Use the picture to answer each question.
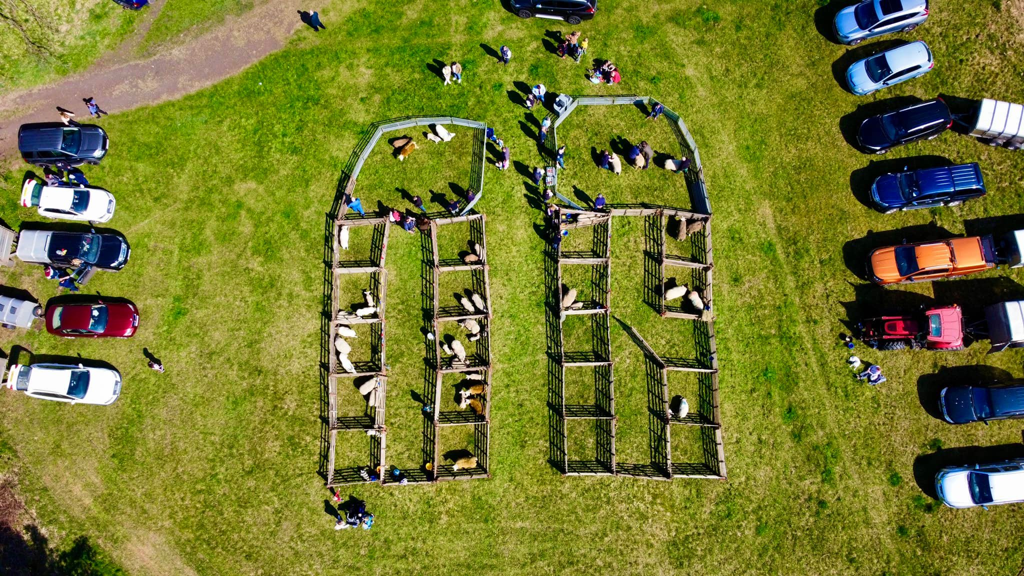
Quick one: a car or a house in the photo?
car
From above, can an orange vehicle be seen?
Yes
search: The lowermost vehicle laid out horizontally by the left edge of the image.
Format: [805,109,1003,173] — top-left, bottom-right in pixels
[8,360,122,405]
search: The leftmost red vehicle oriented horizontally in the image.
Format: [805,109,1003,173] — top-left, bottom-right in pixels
[45,295,140,338]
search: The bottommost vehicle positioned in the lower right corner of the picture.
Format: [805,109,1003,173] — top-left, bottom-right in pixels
[930,454,1024,506]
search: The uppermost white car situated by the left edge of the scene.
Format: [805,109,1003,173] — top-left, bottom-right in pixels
[22,181,118,222]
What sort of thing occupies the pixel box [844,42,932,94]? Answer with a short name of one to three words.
car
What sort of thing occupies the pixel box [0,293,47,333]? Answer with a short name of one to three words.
trailer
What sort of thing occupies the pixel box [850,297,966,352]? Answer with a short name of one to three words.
work vehicle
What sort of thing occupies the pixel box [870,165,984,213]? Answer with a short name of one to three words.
truck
